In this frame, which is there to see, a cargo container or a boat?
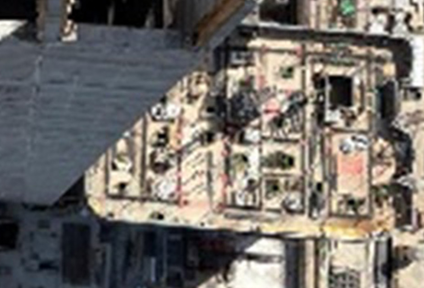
cargo container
